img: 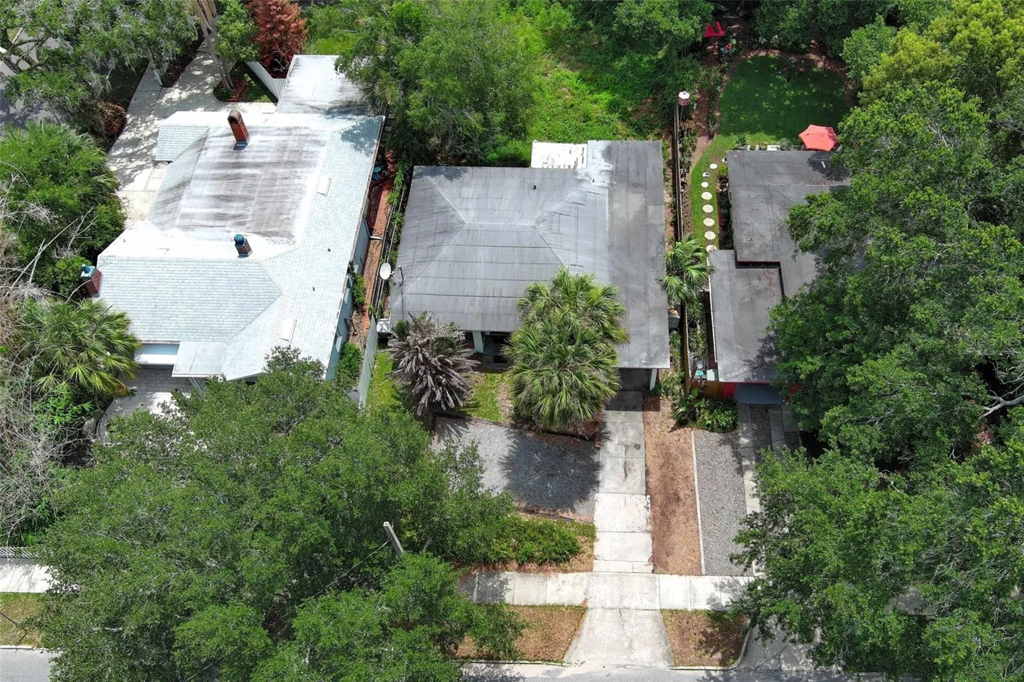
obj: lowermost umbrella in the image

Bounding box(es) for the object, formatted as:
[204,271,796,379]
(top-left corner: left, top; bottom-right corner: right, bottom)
[799,127,837,153]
